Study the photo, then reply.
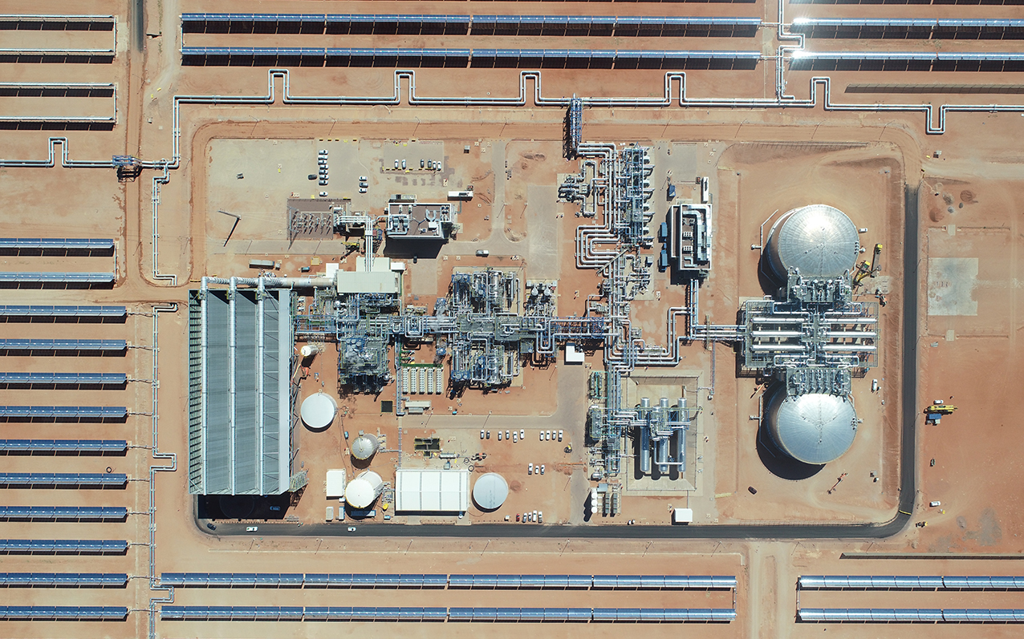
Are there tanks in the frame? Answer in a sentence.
Yes, the photo shows a tank.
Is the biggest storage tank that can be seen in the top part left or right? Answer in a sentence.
It is on the right.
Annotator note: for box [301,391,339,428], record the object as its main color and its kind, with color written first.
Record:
white storage tank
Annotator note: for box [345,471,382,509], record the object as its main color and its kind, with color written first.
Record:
white storage tank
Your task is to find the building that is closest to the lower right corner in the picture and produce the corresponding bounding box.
[673,506,693,523]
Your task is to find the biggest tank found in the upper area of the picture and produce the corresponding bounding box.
[765,203,859,283]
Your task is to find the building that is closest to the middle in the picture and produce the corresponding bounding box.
[565,343,585,362]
